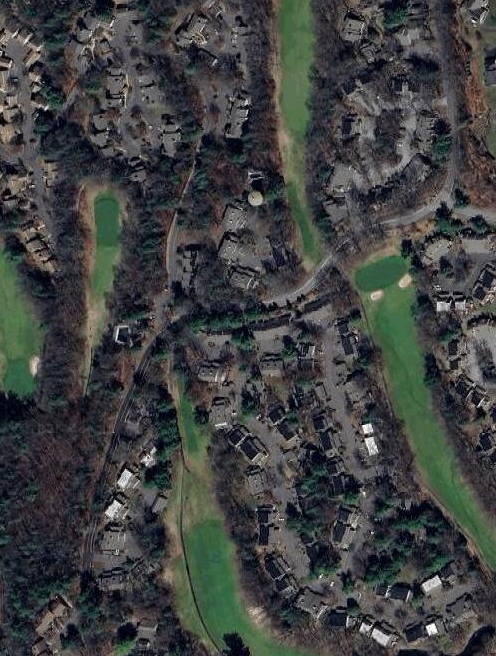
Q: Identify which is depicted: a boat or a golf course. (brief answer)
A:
golf course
